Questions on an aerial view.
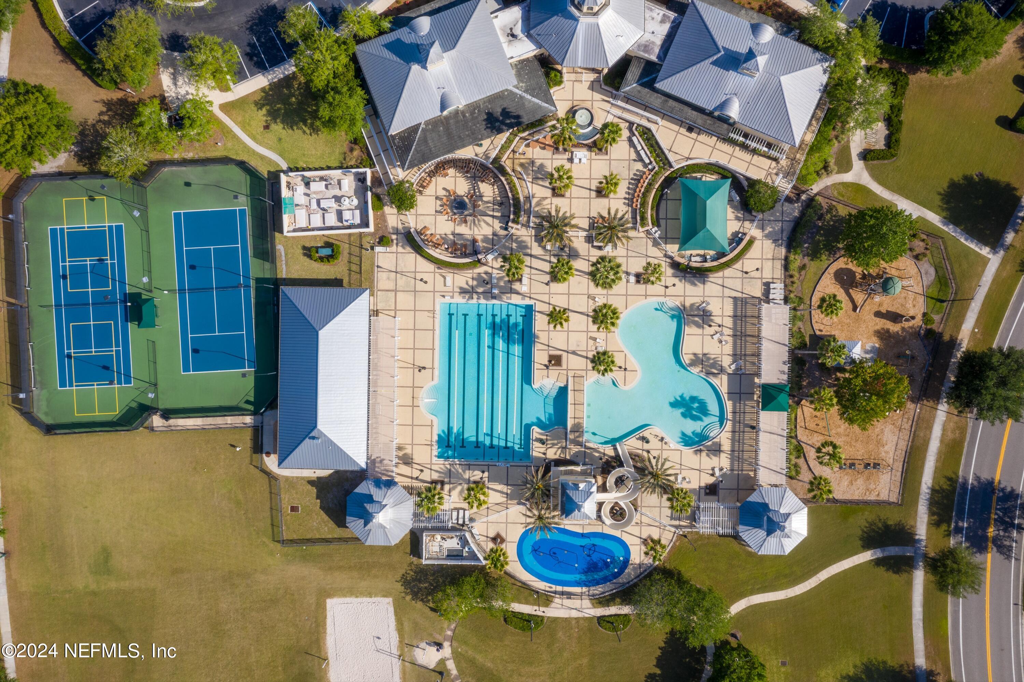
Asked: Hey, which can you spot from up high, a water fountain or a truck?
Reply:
water fountain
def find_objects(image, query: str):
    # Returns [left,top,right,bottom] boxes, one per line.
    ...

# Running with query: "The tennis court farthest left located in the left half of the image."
[23,178,159,432]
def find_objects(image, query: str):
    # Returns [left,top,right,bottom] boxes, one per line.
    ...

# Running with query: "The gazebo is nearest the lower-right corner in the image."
[734,484,807,555]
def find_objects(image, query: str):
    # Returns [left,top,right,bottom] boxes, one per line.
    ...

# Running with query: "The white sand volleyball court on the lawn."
[321,598,402,682]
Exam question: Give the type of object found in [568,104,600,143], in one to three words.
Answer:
fountain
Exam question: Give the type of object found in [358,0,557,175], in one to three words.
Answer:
building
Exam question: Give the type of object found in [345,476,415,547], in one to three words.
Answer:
gazebo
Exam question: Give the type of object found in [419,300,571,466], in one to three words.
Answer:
swimming pool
